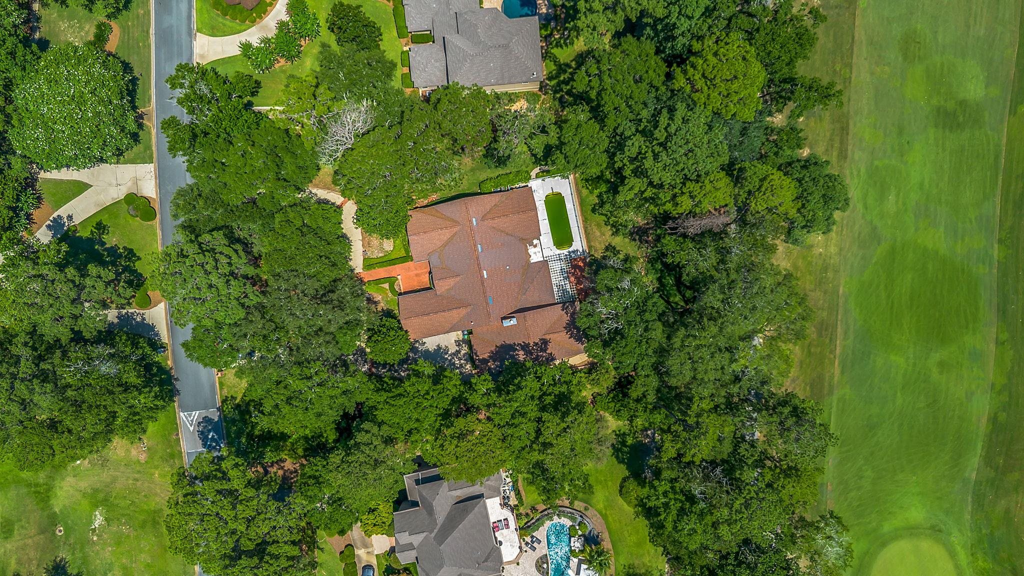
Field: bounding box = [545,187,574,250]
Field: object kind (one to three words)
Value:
swimming pool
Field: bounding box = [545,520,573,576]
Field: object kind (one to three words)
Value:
swimming pool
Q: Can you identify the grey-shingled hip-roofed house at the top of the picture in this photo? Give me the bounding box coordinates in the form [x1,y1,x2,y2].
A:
[405,0,543,99]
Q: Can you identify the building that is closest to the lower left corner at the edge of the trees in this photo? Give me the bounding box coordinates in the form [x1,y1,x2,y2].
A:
[393,463,503,576]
